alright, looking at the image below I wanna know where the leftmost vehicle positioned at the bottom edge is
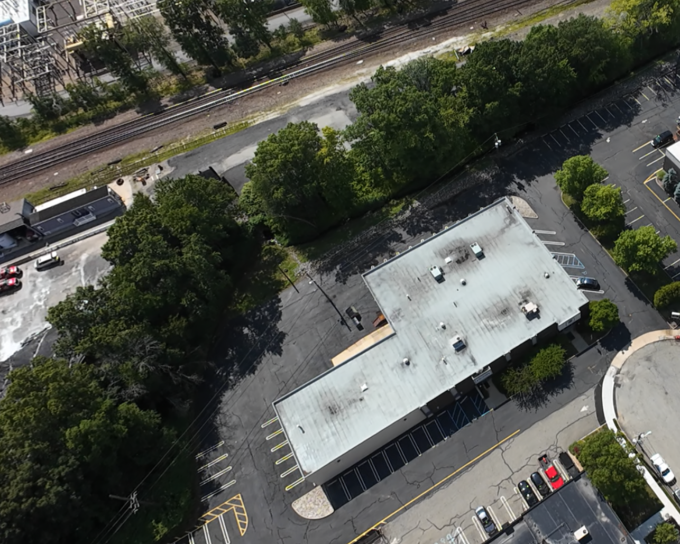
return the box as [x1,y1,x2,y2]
[475,504,498,536]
